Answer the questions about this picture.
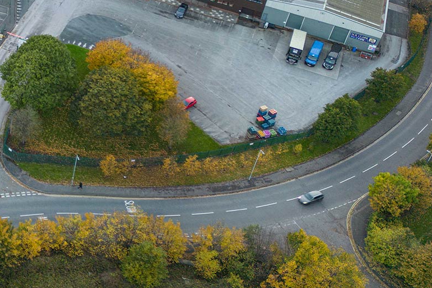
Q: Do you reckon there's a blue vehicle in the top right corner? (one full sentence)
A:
Yes, I can see a blue vehicle in the top right corner.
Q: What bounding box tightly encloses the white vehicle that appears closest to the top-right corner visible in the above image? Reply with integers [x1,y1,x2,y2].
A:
[285,31,307,62]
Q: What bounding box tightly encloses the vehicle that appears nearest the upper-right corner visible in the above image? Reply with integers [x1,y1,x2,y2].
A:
[323,45,342,64]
